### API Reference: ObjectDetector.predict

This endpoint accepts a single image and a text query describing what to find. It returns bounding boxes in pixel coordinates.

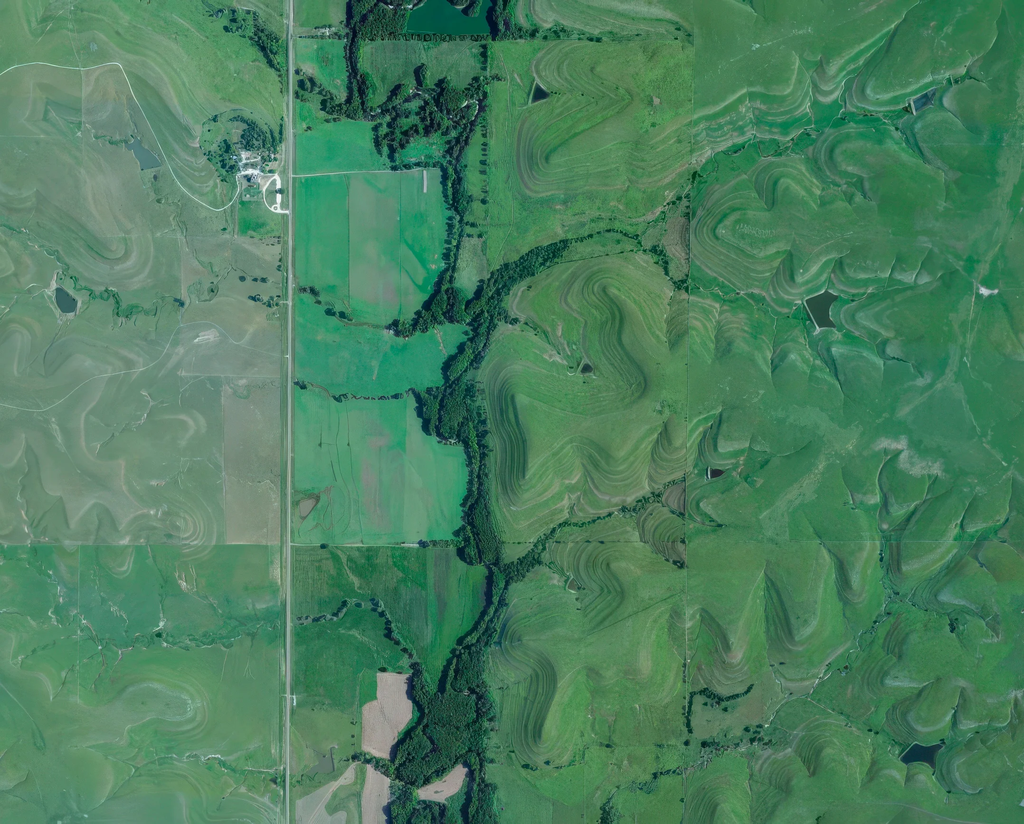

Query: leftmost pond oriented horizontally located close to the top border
[404,0,492,34]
